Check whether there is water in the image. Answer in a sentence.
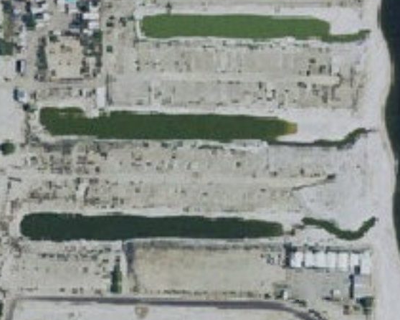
Yes, the picture does contain water.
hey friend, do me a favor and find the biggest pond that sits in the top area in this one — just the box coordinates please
[39,106,375,148]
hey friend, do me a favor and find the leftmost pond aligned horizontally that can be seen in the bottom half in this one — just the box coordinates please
[21,211,283,242]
